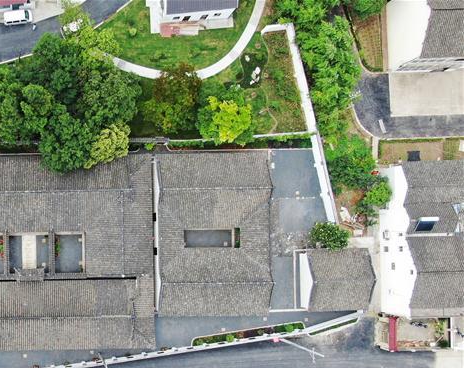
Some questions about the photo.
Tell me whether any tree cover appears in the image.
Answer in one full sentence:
Yes, the picture does contain tree cover.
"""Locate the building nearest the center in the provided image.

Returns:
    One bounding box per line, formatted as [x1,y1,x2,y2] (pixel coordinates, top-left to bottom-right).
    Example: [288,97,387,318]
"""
[153,152,277,316]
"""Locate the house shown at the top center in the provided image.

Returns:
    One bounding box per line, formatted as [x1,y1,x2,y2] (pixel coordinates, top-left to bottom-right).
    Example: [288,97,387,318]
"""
[159,0,247,37]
